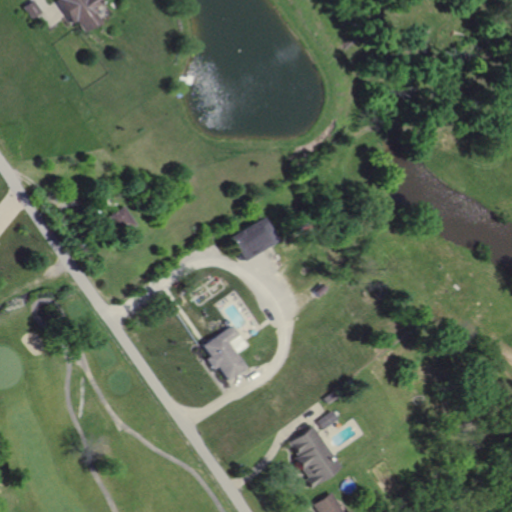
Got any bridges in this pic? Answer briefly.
No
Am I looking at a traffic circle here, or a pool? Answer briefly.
pool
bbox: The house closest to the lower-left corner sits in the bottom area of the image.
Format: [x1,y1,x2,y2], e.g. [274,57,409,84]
[202,328,250,383]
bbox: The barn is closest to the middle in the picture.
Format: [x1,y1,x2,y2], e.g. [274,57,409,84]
[232,217,280,260]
